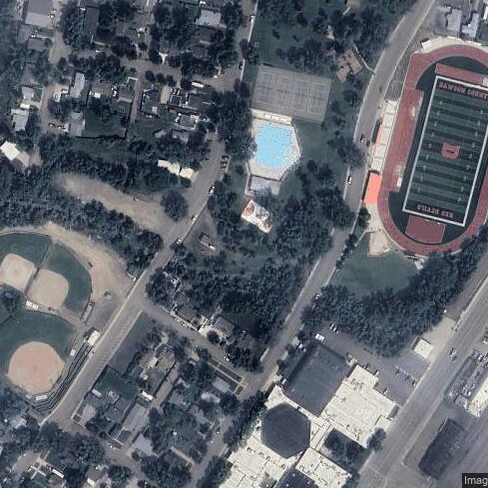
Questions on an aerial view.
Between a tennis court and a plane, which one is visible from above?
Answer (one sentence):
Looking from above, you can make out a tennis court.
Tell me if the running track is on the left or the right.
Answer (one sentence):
The running track appears in the right half of the scene.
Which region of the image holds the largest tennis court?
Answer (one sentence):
Look in the top portion of the view to spot the largest tennis court.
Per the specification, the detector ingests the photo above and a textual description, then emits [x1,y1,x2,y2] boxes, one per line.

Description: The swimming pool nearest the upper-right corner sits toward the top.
[249,119,301,181]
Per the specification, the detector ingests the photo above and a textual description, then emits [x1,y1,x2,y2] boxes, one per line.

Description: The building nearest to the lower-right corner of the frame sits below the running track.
[420,419,468,479]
